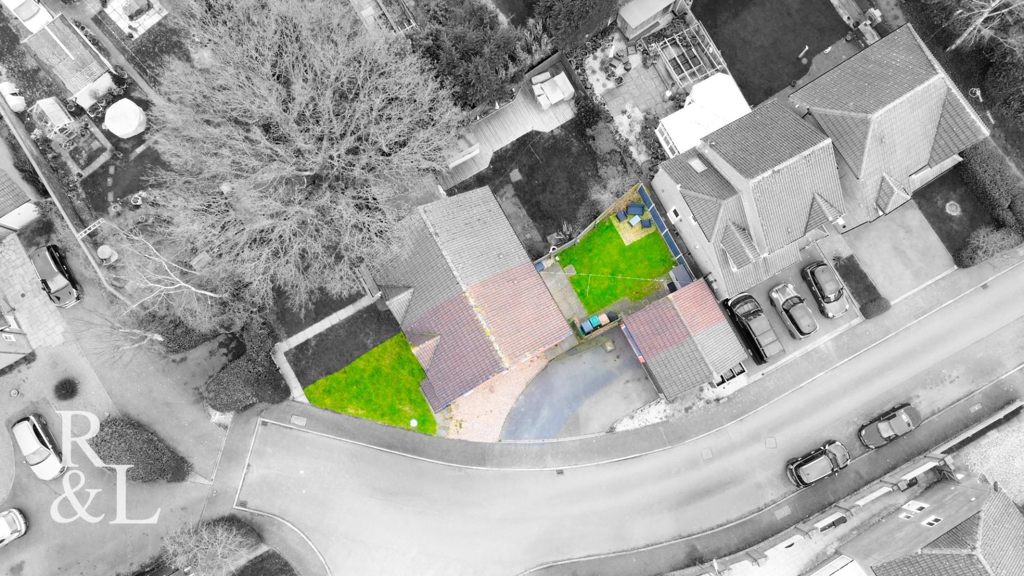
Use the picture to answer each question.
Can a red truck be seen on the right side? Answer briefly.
No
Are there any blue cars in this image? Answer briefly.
No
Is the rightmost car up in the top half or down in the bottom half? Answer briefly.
bottom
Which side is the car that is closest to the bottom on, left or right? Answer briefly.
left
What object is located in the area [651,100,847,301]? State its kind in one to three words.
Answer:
house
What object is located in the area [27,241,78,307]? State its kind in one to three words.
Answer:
car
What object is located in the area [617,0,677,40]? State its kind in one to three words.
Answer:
shed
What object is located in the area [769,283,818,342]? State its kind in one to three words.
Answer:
car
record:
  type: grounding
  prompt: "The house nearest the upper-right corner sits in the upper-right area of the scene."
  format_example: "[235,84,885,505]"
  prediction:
[786,21,994,223]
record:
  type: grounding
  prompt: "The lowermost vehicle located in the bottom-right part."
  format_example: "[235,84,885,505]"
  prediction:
[786,442,853,492]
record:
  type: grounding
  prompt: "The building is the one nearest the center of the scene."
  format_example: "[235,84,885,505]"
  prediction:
[354,186,574,414]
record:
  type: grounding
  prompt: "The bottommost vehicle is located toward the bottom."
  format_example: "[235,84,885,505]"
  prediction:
[0,507,28,543]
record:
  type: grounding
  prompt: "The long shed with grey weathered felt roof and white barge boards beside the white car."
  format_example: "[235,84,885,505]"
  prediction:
[21,12,123,103]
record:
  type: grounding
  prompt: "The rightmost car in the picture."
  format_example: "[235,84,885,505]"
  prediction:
[858,404,931,453]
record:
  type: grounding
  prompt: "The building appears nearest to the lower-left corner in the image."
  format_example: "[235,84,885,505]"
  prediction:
[0,291,32,368]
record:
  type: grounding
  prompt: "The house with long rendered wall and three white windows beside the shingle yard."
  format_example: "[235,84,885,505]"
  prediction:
[837,462,1024,576]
